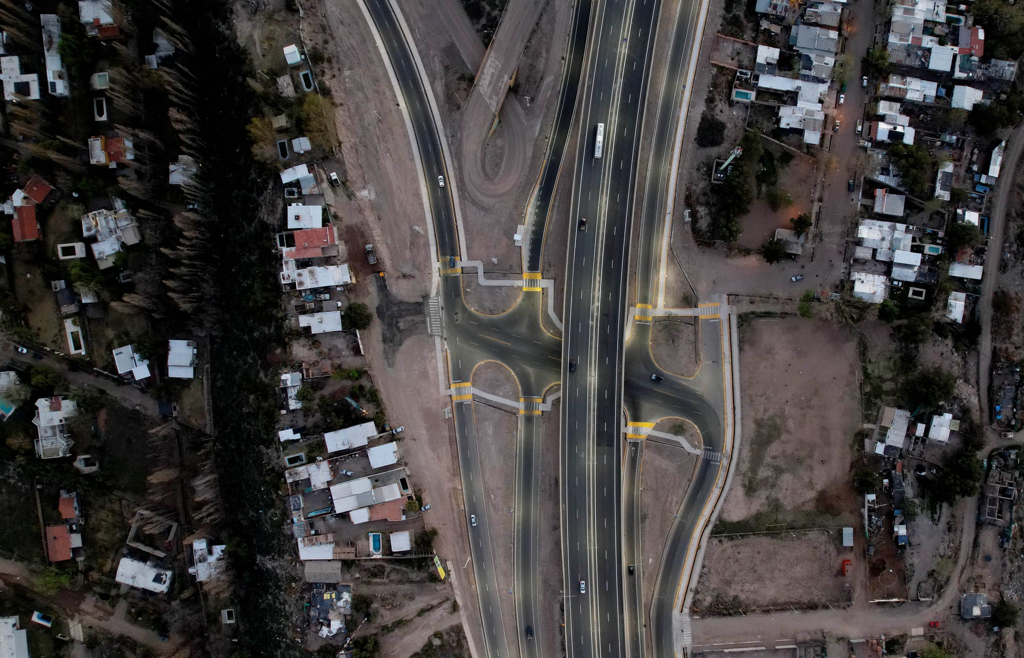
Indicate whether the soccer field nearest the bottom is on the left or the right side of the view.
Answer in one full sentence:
You can find the soccer field nearest the bottom on the right side of the picture.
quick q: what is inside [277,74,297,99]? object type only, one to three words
shed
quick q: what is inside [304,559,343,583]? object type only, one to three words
barn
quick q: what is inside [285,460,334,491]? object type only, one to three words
house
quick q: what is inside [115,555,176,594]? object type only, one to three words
house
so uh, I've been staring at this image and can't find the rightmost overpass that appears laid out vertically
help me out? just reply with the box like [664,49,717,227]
[559,0,662,658]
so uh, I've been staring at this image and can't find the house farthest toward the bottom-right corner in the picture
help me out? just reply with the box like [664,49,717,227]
[956,592,992,618]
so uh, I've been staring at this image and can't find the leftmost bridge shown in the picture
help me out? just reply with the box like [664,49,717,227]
[464,0,529,142]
